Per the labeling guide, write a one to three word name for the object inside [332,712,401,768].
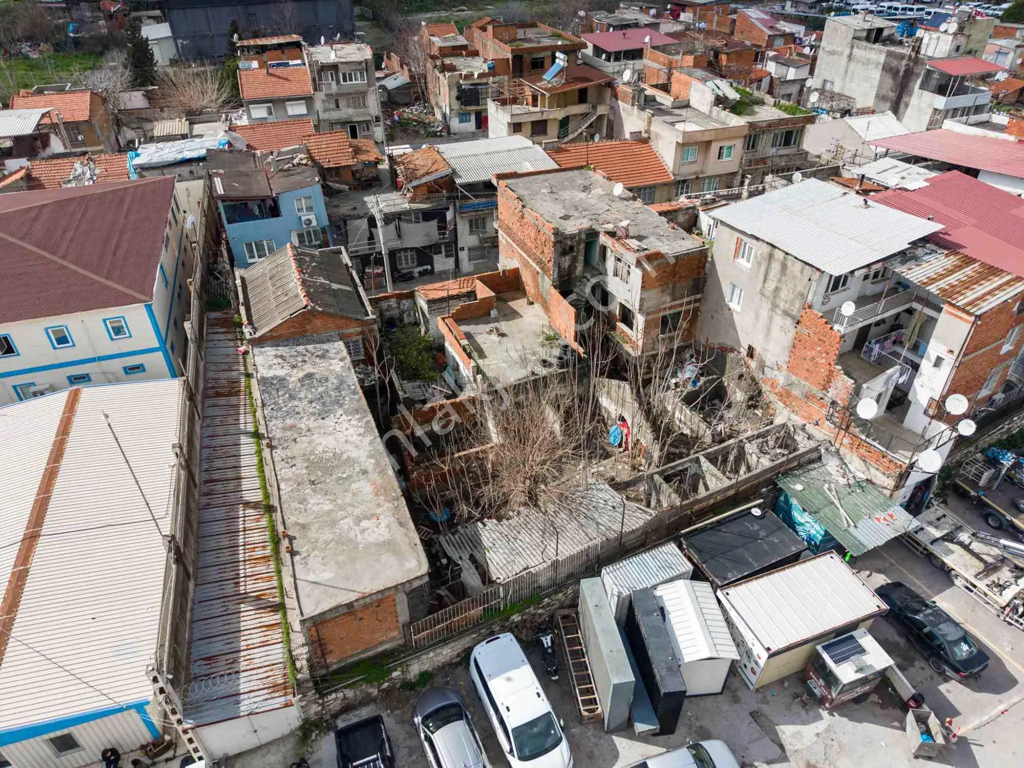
truck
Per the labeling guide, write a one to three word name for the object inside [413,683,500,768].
car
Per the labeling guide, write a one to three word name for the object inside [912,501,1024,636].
truck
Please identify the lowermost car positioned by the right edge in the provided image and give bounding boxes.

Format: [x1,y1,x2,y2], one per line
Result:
[874,585,996,700]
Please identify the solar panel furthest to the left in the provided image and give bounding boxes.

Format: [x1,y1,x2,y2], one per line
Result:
[822,634,864,664]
